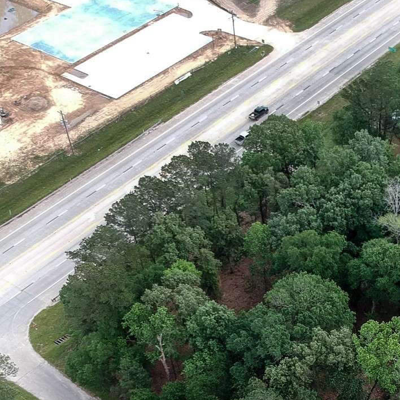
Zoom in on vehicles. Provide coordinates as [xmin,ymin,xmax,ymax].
[234,130,254,145]
[247,106,269,120]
